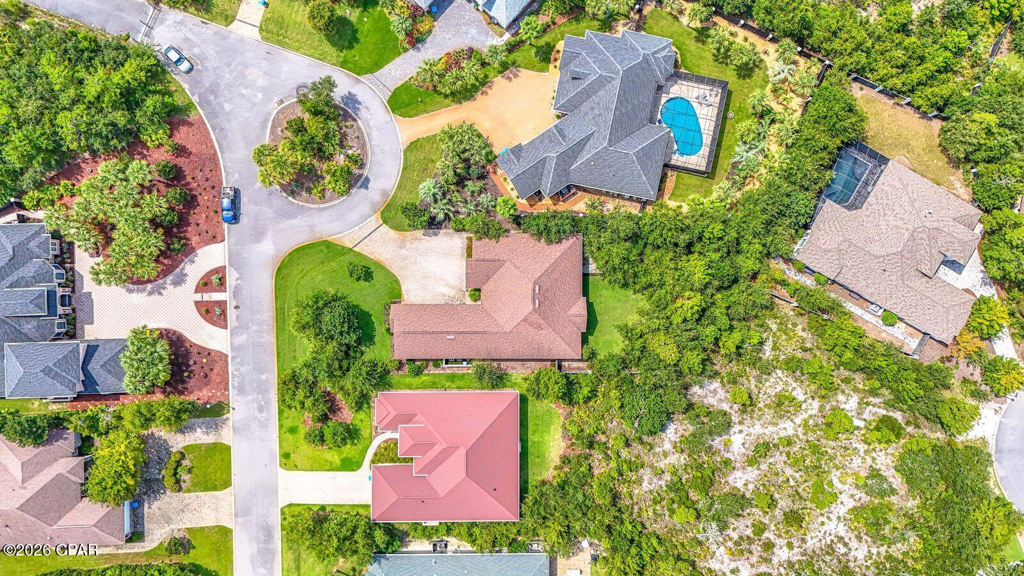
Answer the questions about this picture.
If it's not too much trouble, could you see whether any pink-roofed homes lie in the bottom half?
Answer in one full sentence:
Yes, you'll find a pink-roofed home in the bottom half.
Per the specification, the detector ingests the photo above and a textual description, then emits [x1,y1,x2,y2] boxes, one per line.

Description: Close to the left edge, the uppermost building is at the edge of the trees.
[0,223,138,400]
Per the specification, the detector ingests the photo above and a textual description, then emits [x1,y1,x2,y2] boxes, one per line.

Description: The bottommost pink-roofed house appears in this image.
[371,391,519,522]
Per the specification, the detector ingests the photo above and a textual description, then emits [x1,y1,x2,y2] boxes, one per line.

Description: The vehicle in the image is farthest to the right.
[220,186,237,224]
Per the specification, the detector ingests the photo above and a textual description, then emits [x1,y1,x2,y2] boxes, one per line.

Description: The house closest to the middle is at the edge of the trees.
[389,232,588,360]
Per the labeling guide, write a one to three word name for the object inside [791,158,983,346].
house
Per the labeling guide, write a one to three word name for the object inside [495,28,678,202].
house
